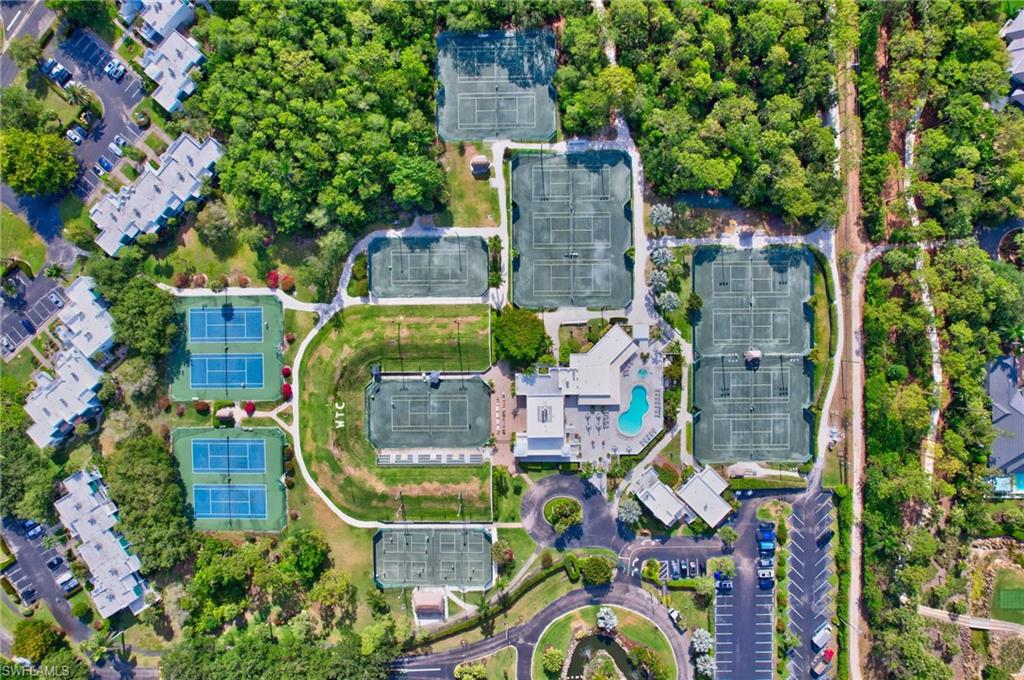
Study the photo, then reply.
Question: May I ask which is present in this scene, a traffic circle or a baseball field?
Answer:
traffic circle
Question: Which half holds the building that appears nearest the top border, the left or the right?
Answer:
left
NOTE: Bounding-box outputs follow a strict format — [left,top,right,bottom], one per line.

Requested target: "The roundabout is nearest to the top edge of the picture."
[530,479,599,547]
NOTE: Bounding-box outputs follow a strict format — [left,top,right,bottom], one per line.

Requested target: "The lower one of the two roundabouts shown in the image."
[518,589,692,680]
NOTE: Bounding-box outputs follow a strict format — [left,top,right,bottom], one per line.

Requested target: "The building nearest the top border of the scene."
[119,0,199,53]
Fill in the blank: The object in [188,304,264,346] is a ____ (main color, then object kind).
blue tennis court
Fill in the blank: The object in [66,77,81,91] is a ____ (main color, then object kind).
white car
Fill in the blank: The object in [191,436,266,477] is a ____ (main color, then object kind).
blue tennis court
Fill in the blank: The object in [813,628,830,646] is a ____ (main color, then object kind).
white vehicle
